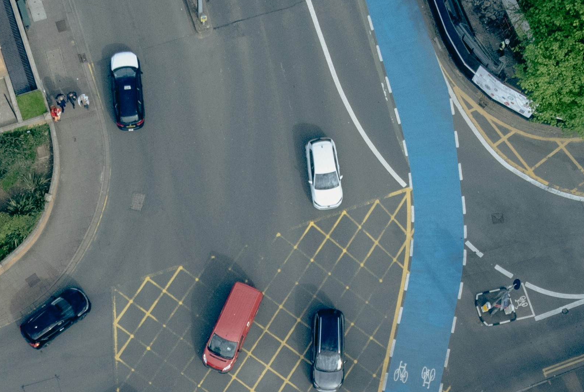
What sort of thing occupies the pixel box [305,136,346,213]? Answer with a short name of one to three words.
car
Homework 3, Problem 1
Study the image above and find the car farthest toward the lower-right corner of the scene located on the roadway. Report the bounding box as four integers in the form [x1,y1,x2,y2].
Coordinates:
[309,309,349,392]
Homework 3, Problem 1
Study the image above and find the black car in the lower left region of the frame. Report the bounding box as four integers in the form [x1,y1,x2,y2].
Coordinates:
[23,286,92,347]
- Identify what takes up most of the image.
paved ground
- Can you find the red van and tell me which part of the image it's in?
bottom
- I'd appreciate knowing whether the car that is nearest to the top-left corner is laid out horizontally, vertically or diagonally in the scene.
vertically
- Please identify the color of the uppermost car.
black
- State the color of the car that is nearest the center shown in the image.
white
